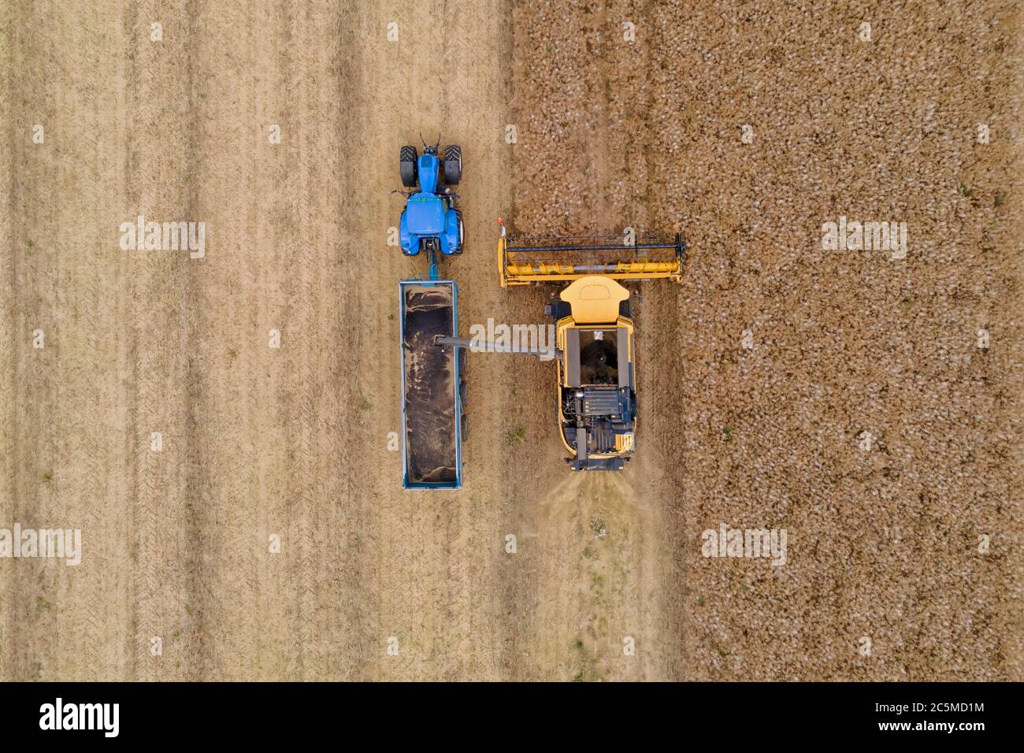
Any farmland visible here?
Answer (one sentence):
Yes, there's farmland in this view.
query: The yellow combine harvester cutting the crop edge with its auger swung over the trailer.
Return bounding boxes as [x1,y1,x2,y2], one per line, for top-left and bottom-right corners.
[435,218,684,471]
